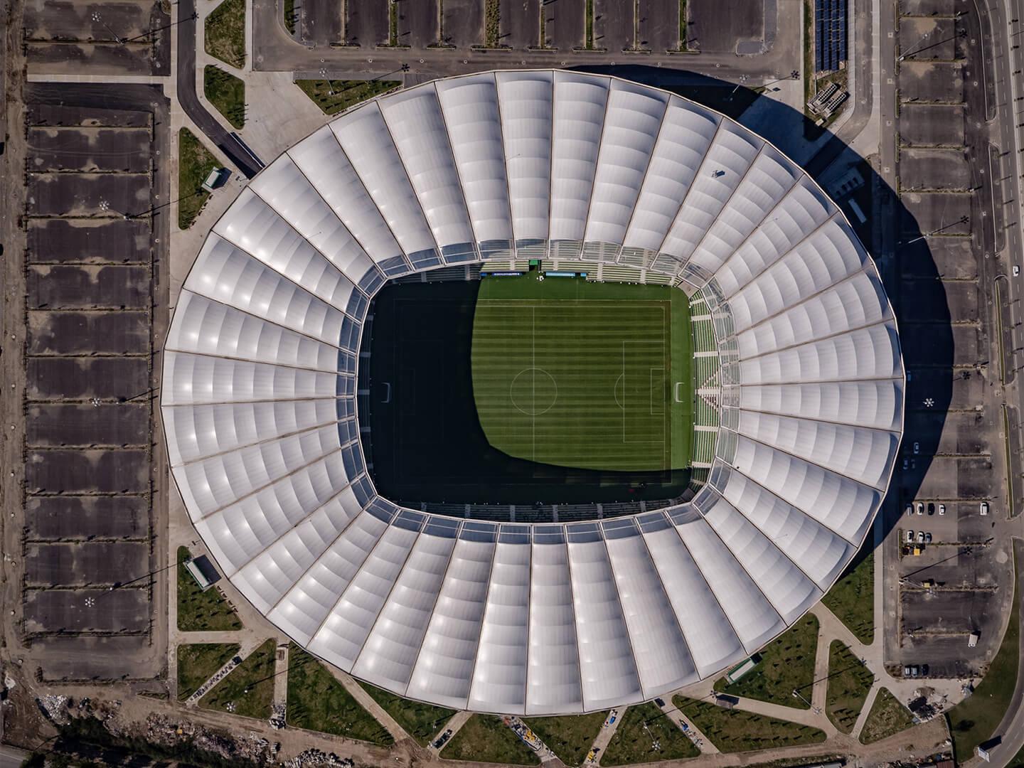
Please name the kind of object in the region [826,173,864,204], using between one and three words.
building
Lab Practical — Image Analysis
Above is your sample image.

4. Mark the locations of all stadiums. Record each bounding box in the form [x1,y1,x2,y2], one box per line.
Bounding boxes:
[158,67,907,718]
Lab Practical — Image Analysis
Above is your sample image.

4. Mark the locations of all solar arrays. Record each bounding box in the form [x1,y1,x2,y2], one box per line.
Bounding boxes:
[823,0,830,70]
[815,0,823,70]
[830,0,839,70]
[838,0,846,60]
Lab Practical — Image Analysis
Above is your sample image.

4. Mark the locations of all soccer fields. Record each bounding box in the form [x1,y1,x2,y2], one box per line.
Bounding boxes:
[395,300,671,484]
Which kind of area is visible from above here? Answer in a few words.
sports ground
